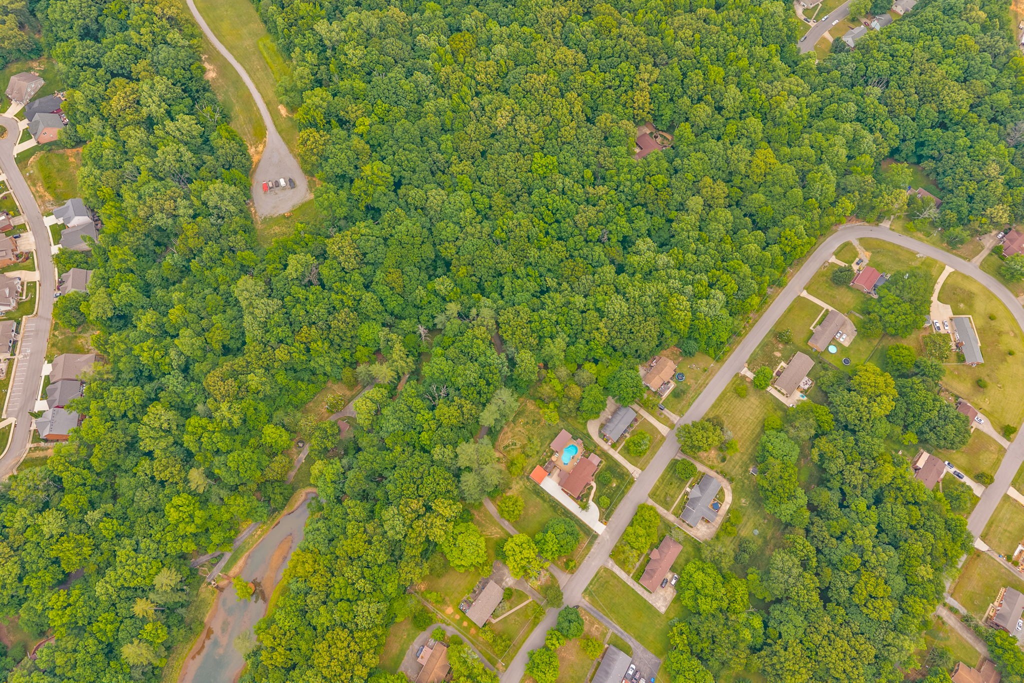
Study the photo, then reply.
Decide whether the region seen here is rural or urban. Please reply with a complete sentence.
From above, the setting appears rural.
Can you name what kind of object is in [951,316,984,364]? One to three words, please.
house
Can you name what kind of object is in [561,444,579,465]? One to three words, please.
swimming pool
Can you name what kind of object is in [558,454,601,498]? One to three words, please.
house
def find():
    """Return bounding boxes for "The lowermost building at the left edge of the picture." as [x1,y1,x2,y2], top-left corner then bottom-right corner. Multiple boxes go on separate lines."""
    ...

[35,409,80,436]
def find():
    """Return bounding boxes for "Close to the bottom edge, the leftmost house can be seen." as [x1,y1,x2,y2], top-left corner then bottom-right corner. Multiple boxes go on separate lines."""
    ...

[414,640,452,683]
